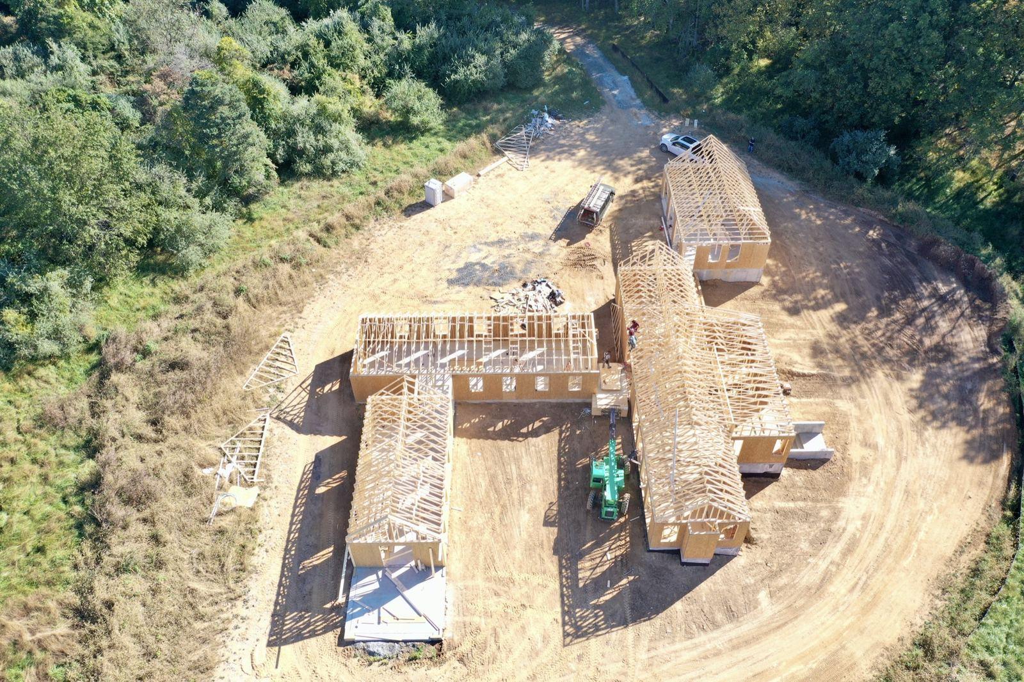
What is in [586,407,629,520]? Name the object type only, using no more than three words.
work vehicle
